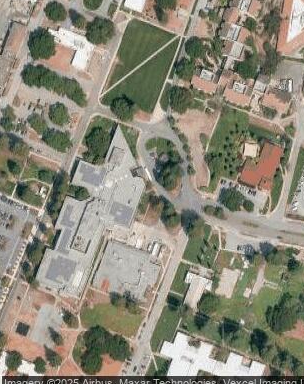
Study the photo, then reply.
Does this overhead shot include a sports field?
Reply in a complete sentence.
Yes, there is a sports field in the image.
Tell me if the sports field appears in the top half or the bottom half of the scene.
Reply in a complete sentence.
Seen from above, the sports field lies in the top half of the view.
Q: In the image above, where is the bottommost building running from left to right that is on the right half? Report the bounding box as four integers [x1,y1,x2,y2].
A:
[161,332,266,384]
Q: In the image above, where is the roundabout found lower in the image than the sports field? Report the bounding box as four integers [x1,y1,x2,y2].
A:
[147,135,186,194]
